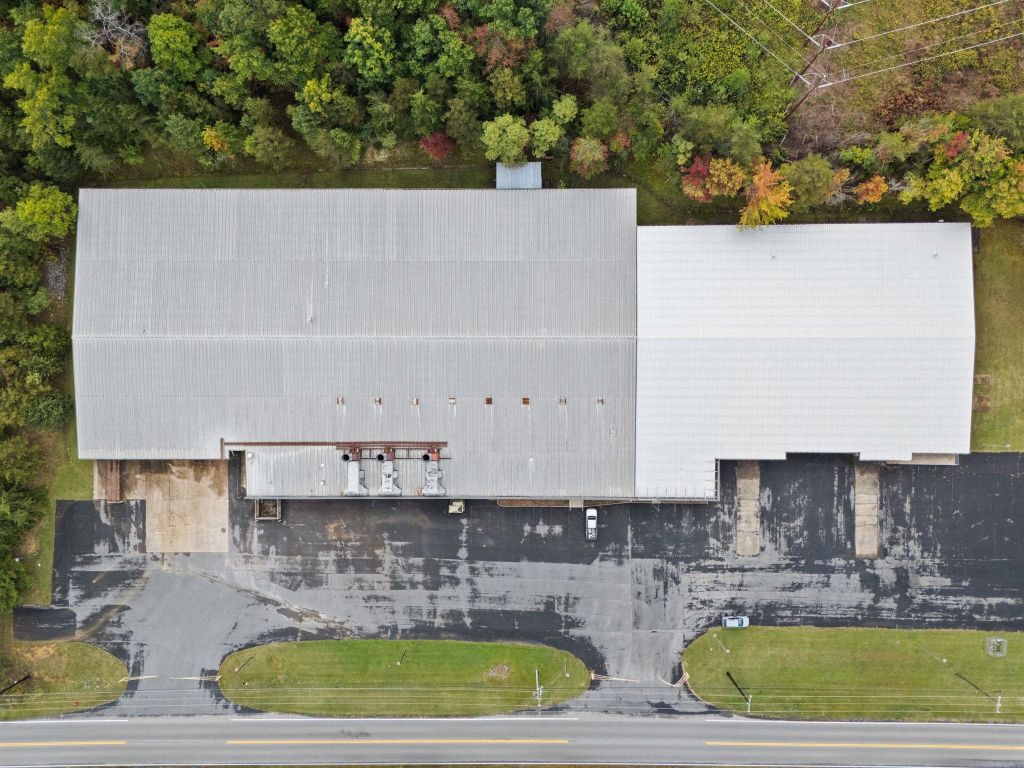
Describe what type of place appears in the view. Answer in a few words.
industrial area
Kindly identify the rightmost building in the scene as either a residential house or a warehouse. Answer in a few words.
warehouse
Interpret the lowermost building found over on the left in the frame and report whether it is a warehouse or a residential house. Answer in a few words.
warehouse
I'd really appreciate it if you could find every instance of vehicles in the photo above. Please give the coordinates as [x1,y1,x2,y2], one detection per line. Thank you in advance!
[585,508,598,540]
[720,614,748,628]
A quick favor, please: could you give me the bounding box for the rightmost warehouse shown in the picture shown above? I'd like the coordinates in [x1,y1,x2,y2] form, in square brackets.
[633,222,976,502]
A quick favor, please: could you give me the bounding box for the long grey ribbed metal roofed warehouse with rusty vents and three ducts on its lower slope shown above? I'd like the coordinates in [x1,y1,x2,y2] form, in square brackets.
[71,188,639,502]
